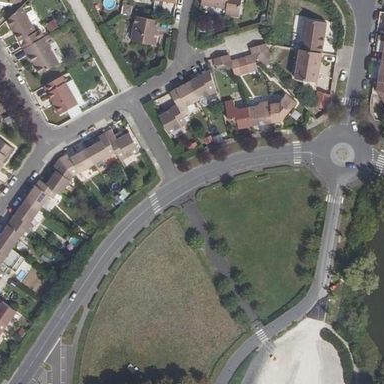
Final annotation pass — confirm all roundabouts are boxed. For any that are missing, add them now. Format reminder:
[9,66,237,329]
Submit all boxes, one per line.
[316,127,370,181]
